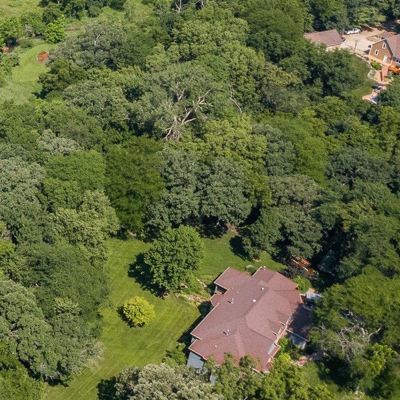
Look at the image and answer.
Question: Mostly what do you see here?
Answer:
trees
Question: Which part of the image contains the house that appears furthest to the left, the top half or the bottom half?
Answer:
bottom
